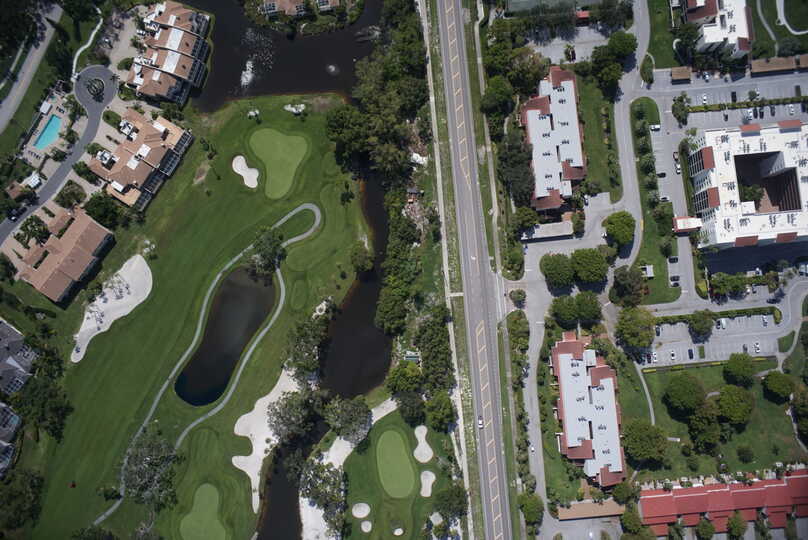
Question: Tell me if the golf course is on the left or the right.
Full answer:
The golf course is on the left side of the image.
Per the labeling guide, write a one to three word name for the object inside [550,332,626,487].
building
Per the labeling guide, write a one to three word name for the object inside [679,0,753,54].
building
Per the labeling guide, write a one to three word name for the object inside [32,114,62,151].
swimming pool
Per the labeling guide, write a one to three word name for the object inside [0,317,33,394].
house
